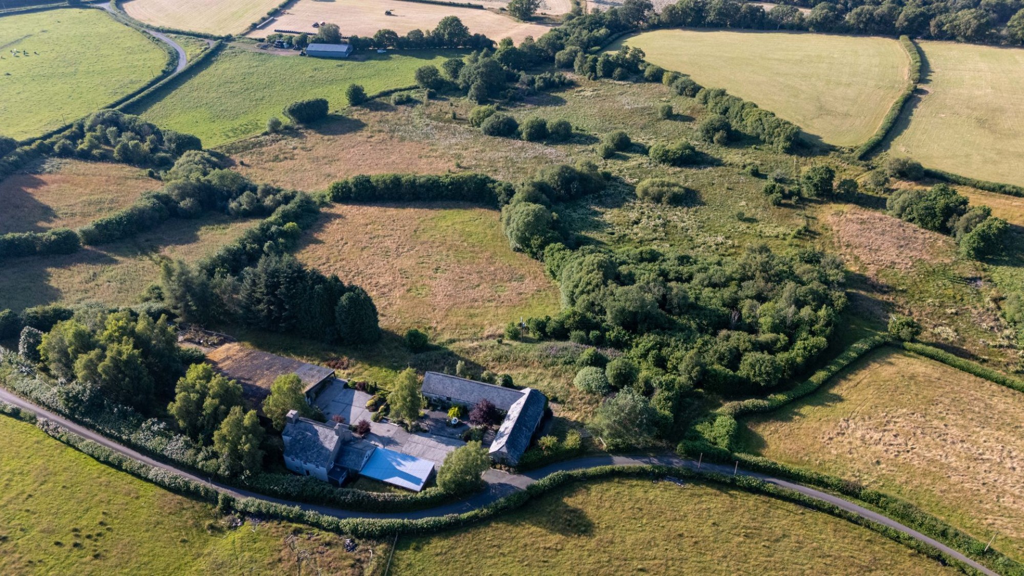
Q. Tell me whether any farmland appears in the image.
Yes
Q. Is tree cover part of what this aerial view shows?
Yes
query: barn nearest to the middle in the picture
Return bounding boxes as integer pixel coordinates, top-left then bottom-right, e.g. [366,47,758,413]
[422,372,549,470]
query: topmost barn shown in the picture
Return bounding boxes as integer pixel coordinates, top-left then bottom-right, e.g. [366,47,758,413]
[305,44,351,57]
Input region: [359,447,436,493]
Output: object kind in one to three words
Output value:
building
